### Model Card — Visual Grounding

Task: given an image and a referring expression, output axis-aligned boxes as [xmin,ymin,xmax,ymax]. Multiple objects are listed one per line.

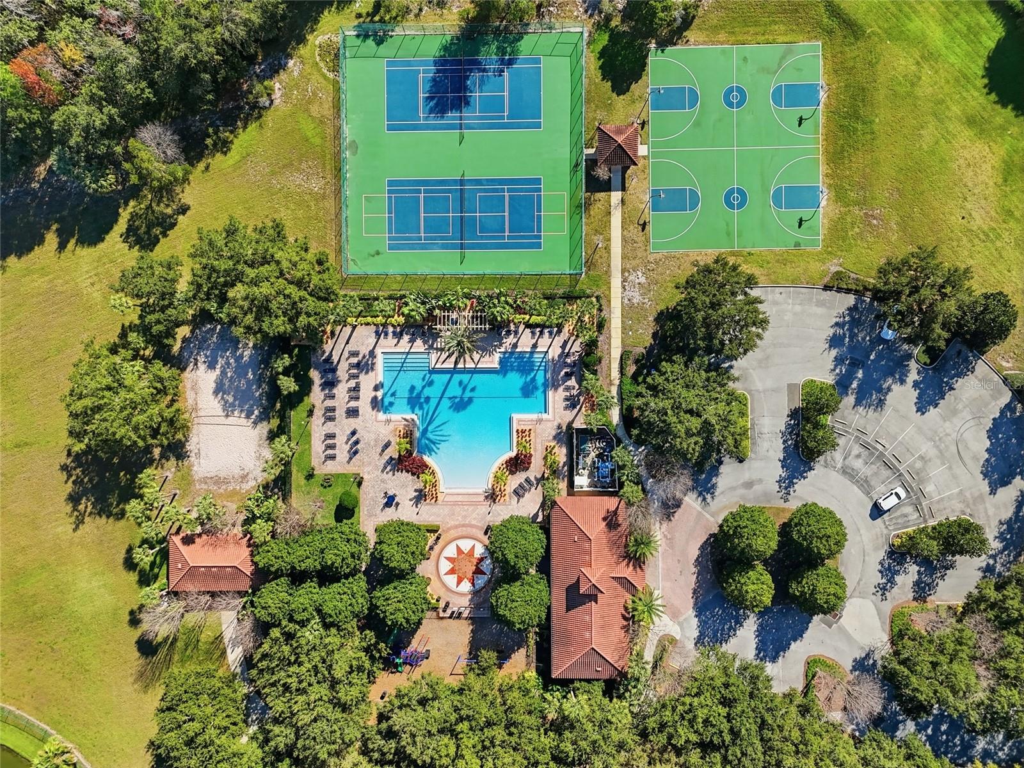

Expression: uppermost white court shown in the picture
[180,319,277,493]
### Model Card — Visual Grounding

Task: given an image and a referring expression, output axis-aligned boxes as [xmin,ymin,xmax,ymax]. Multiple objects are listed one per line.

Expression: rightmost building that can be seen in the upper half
[597,124,639,170]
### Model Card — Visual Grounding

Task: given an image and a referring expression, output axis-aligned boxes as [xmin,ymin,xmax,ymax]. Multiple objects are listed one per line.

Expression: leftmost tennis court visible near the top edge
[345,33,583,156]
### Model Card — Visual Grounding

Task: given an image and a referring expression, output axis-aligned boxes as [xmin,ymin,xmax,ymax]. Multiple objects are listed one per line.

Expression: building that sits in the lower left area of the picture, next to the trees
[168,533,266,591]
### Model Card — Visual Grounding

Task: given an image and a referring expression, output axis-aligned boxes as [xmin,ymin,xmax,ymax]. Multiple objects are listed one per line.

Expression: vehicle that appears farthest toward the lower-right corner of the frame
[873,485,905,512]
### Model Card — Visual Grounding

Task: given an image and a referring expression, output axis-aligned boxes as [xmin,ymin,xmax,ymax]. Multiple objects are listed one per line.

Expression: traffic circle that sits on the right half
[704,479,863,630]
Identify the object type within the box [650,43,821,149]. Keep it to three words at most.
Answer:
basketball court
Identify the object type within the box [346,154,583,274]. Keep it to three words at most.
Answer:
tennis court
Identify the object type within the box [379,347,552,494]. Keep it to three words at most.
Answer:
swimming pool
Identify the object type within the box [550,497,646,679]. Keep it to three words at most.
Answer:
building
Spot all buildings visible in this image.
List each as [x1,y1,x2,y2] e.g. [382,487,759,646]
[550,497,646,679]
[168,533,266,591]
[597,124,639,170]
